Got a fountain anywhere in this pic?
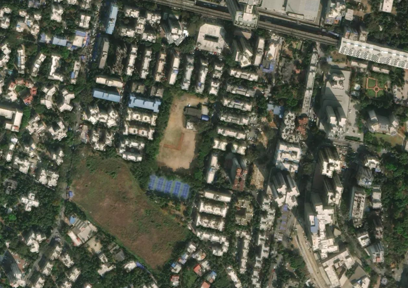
No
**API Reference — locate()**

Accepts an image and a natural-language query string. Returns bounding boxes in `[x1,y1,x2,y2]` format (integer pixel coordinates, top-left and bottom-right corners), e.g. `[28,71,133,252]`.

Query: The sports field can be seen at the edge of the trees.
[158,98,195,168]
